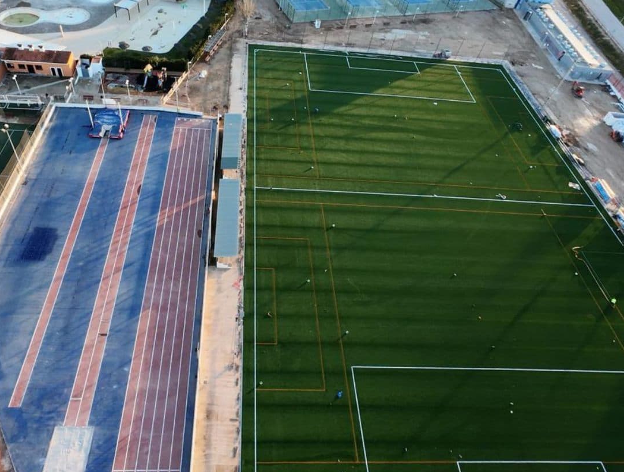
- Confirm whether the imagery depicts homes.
Yes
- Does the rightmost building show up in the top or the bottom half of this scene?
top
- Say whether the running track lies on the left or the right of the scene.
left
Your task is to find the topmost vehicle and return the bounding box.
[566,83,588,97]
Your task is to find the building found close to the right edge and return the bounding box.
[516,0,618,81]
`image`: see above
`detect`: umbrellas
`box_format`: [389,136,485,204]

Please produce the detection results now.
[117,40,130,50]
[140,43,152,54]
